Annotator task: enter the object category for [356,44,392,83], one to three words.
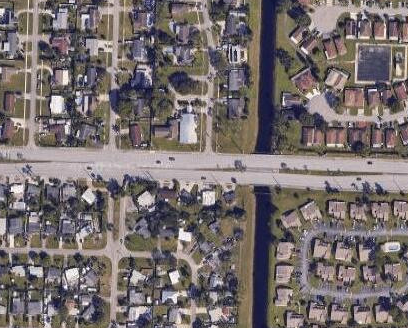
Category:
tennis court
